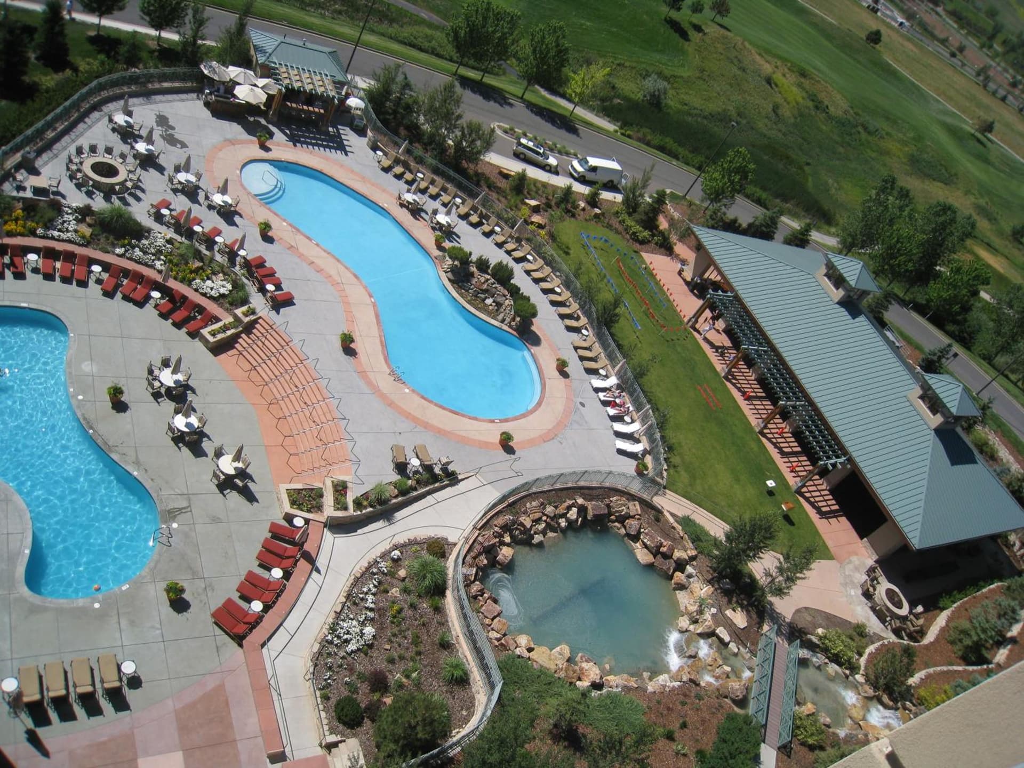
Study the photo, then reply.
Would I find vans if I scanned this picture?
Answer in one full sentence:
Yes, a van appears in the view.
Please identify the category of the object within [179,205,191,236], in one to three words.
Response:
umbrella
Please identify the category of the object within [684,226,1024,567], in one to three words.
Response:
building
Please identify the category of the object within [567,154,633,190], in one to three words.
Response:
van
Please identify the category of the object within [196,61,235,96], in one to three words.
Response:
umbrella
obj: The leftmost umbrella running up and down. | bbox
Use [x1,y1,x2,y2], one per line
[7,686,24,724]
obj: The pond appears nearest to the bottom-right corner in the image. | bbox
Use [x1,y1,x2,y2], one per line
[478,516,688,691]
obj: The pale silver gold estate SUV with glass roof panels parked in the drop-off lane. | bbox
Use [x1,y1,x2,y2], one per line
[513,135,558,170]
